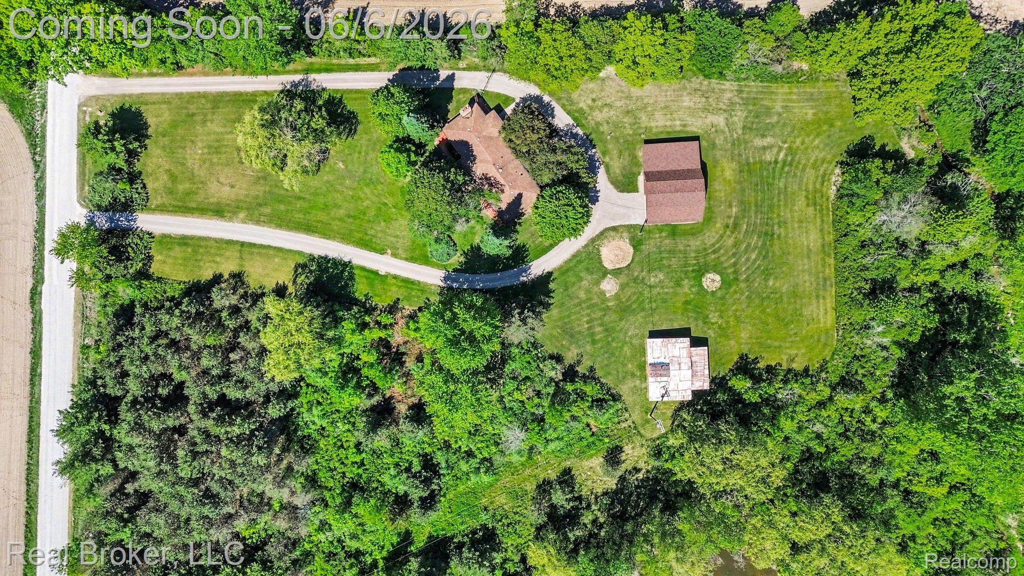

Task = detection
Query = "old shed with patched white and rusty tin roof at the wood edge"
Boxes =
[647,338,709,401]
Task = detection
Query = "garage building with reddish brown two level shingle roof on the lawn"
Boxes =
[643,141,705,225]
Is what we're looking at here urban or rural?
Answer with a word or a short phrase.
rural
